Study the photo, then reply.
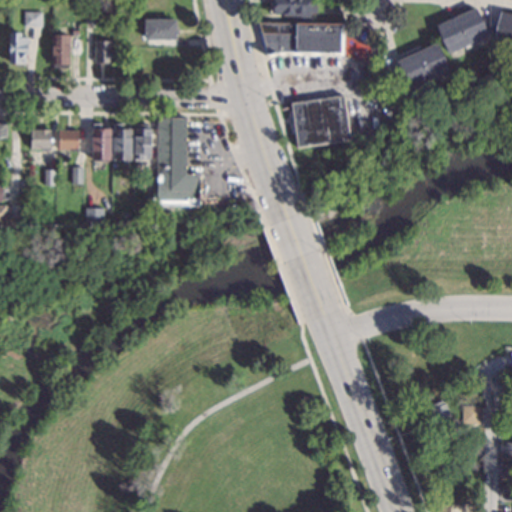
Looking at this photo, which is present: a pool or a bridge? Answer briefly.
bridge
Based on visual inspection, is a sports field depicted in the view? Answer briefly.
No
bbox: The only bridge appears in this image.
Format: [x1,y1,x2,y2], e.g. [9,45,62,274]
[262,212,351,326]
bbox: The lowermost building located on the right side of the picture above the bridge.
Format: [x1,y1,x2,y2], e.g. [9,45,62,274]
[292,97,350,152]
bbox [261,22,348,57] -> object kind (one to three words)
building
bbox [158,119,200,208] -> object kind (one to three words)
building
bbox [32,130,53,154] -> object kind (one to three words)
house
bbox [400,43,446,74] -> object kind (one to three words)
house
